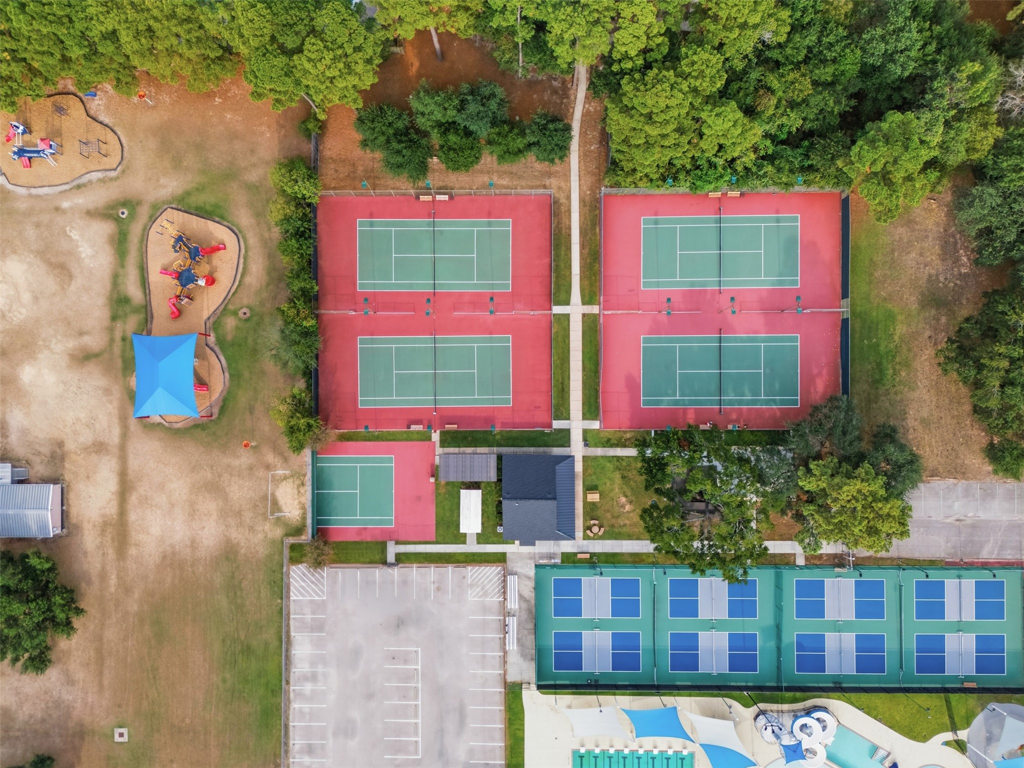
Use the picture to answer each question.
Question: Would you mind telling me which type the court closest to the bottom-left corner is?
tennis court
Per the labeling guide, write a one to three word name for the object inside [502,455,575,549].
building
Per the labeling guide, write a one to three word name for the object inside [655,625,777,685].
sports court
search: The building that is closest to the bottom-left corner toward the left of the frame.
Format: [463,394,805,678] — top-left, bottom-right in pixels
[0,484,65,538]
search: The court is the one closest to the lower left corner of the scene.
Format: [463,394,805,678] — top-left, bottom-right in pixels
[316,442,435,541]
